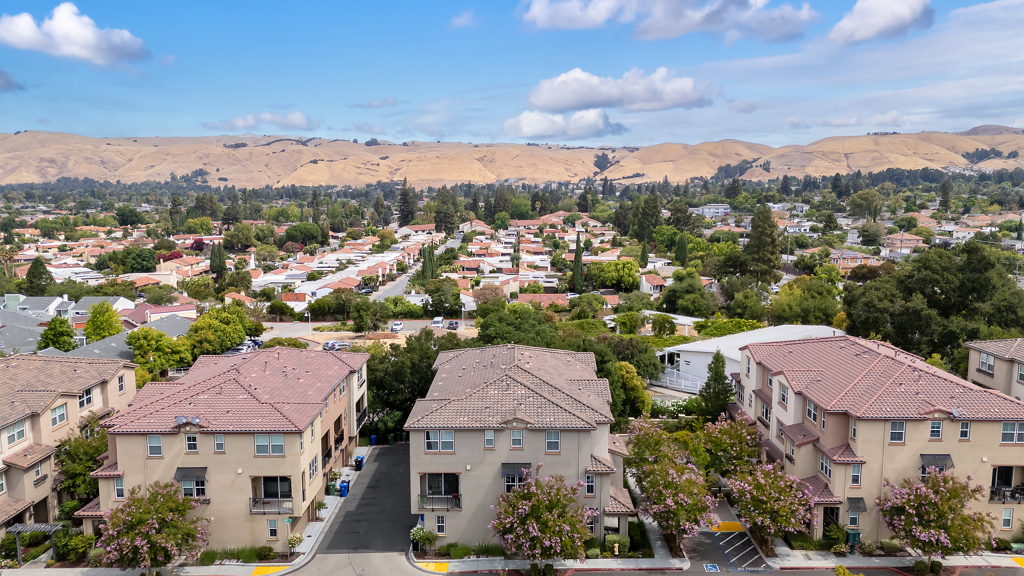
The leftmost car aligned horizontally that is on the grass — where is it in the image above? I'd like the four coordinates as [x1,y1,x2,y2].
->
[327,339,357,352]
